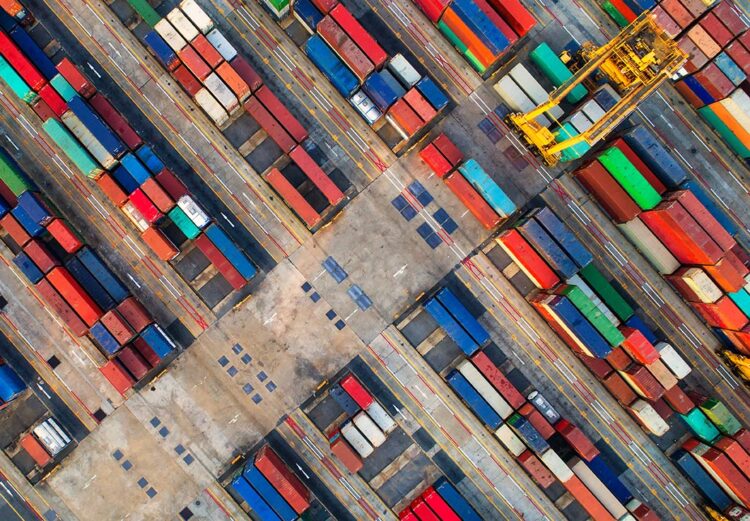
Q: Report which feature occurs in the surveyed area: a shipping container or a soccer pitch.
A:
shipping container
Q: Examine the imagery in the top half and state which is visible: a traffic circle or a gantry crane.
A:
gantry crane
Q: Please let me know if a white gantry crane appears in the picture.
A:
No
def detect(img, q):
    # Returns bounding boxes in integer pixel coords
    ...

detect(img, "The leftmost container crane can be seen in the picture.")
[505,4,694,165]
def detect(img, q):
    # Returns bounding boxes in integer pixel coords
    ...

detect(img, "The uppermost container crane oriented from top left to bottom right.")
[715,346,750,390]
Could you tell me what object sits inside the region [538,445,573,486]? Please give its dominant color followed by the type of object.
white shipping container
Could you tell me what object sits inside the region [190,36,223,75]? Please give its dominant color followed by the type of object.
red shipping container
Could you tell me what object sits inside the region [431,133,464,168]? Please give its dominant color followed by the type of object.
red shipping container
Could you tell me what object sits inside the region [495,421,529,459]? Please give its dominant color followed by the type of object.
white shipping container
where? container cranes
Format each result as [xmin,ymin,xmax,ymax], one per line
[505,4,694,165]
[715,346,750,390]
[702,502,724,521]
